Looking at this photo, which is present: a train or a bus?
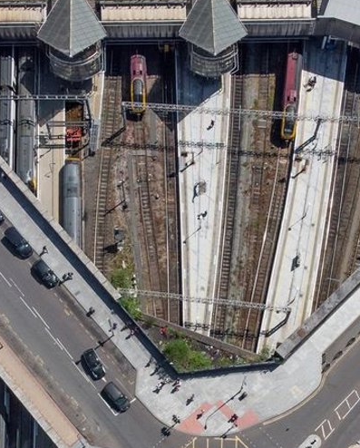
train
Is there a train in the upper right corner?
Yes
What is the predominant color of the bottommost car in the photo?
black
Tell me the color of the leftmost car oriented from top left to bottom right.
black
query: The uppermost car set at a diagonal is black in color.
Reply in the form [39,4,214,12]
[3,227,32,257]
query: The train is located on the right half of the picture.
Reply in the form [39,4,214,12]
[278,34,303,144]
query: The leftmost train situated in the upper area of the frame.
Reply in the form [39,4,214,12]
[0,40,17,172]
